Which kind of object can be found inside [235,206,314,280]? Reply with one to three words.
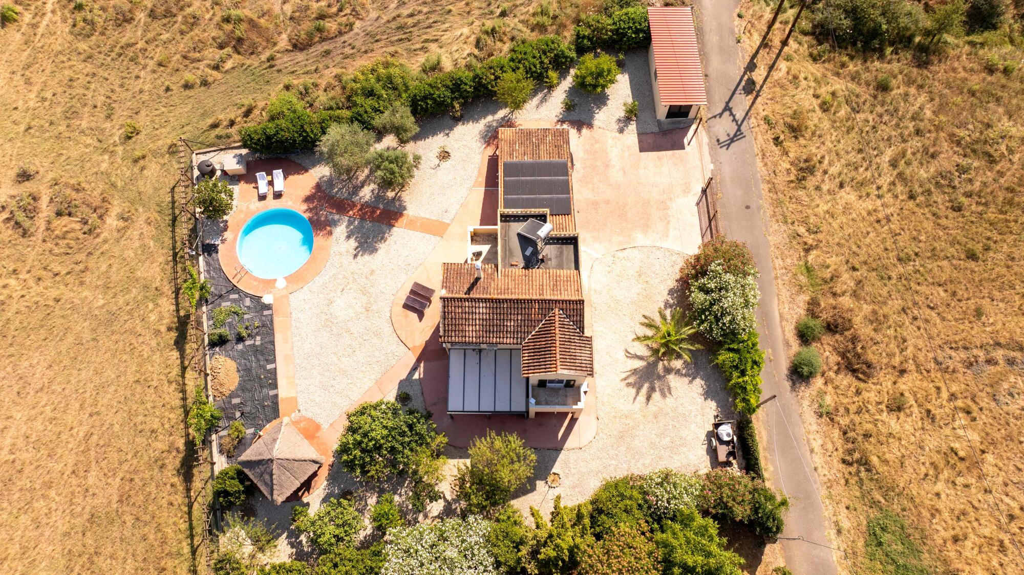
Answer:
swimming pool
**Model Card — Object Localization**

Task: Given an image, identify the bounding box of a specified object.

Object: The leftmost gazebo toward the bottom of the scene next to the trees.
[235,418,327,506]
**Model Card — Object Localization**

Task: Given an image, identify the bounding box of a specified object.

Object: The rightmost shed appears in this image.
[648,5,707,131]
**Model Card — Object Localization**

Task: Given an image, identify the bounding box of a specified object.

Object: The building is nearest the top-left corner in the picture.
[220,148,246,175]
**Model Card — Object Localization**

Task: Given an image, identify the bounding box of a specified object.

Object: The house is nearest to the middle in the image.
[436,127,595,413]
